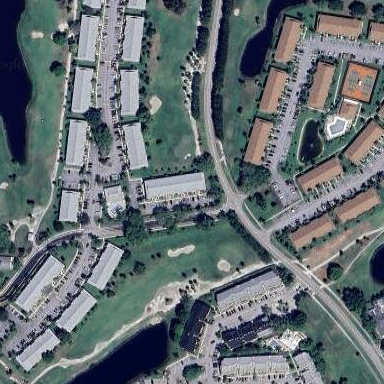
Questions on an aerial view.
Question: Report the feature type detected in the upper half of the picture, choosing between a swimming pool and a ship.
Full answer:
You can see a swimming pool in the upper half of the picture.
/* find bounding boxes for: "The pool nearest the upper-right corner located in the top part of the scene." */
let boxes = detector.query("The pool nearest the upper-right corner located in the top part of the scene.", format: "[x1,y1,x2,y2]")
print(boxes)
[323,114,353,141]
